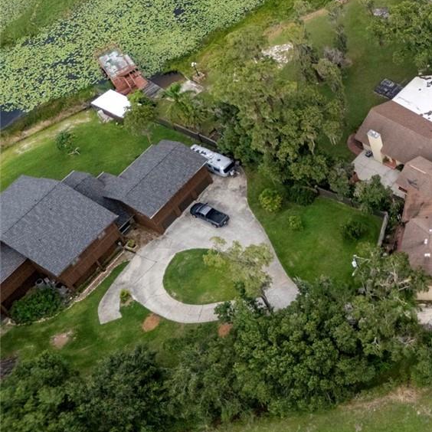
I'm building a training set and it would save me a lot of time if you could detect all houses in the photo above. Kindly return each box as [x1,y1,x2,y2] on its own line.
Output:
[355,74,432,296]
[0,141,214,315]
